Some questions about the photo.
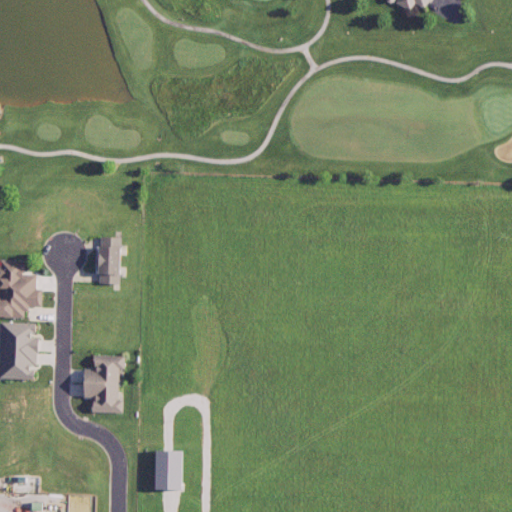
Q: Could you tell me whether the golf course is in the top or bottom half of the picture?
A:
top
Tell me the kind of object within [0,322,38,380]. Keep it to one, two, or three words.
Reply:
house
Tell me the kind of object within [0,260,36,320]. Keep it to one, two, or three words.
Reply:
house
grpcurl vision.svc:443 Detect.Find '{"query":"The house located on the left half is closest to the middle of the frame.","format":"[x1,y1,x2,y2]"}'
[98,232,122,290]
